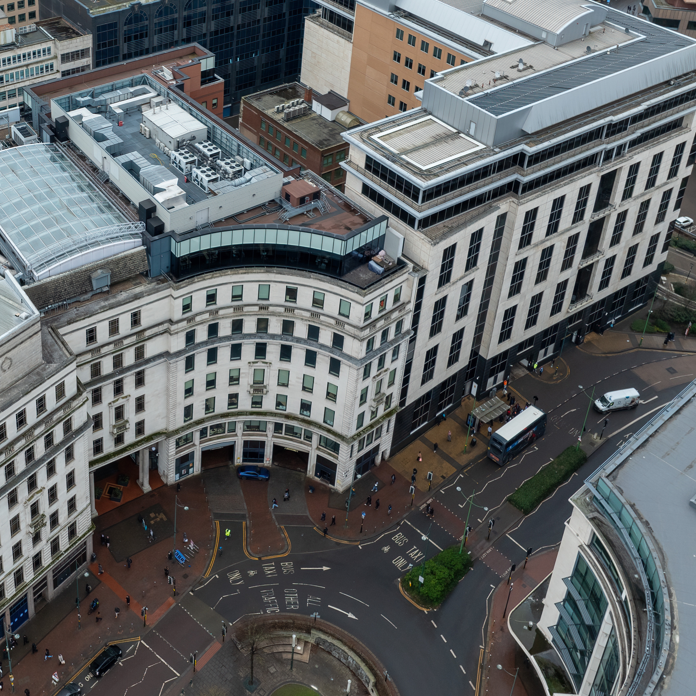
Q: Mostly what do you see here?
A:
buildings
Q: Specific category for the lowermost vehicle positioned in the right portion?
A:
bus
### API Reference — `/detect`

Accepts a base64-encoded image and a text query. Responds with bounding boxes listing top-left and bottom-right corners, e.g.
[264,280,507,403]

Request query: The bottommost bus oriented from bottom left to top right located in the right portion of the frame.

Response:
[486,408,549,464]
